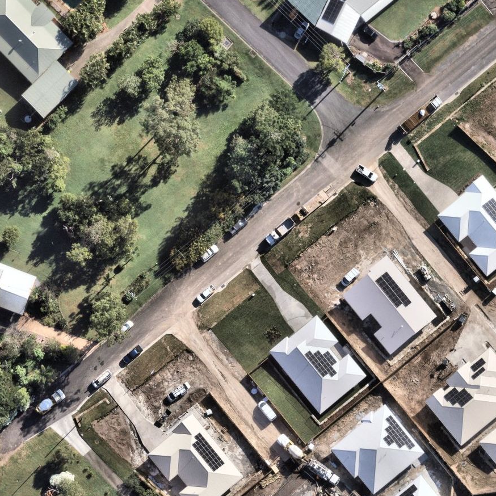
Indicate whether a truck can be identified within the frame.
Yes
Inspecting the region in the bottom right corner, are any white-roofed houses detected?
Yes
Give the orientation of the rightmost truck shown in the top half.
at an angle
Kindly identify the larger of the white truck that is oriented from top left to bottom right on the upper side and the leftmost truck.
the leftmost truck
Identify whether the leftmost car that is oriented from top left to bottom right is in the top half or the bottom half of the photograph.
bottom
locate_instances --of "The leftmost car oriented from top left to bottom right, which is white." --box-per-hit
[254,399,279,424]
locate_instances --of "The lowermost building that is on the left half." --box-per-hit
[148,414,243,496]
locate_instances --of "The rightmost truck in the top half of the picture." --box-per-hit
[401,93,447,137]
